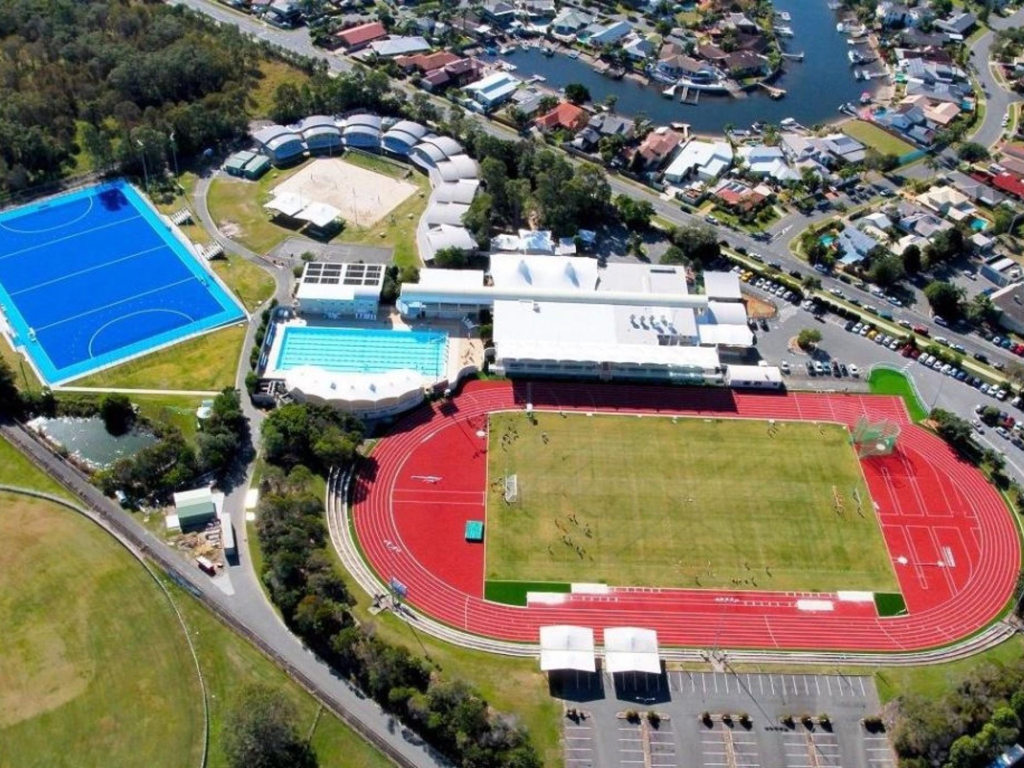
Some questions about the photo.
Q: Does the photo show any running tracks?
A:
Yes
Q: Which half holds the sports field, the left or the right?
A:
left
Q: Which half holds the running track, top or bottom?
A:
bottom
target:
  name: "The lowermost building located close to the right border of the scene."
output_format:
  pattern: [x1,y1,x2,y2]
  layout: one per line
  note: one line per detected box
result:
[995,311,1024,360]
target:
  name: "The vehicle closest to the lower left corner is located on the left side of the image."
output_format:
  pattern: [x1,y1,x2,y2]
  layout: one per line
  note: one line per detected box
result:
[196,551,219,575]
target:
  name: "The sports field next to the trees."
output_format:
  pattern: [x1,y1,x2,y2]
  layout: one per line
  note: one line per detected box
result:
[0,190,226,369]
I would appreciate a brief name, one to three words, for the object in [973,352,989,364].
vehicle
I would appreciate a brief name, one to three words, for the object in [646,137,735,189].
house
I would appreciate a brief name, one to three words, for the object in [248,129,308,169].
building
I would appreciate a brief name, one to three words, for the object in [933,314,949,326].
vehicle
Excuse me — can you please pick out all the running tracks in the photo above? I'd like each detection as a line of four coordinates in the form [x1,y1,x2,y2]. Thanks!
[353,388,1022,651]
